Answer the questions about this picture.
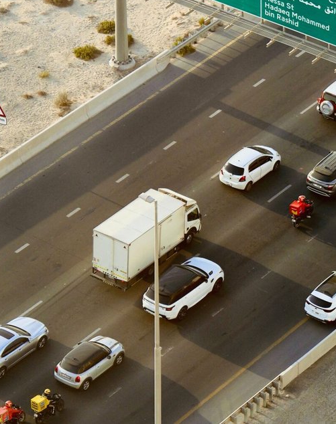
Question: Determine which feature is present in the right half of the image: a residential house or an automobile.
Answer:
automobile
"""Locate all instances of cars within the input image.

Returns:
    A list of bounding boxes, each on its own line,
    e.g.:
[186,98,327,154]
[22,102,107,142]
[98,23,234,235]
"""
[303,268,336,324]
[0,315,50,377]
[139,258,225,324]
[311,79,336,123]
[219,144,282,191]
[305,149,336,199]
[52,334,126,390]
